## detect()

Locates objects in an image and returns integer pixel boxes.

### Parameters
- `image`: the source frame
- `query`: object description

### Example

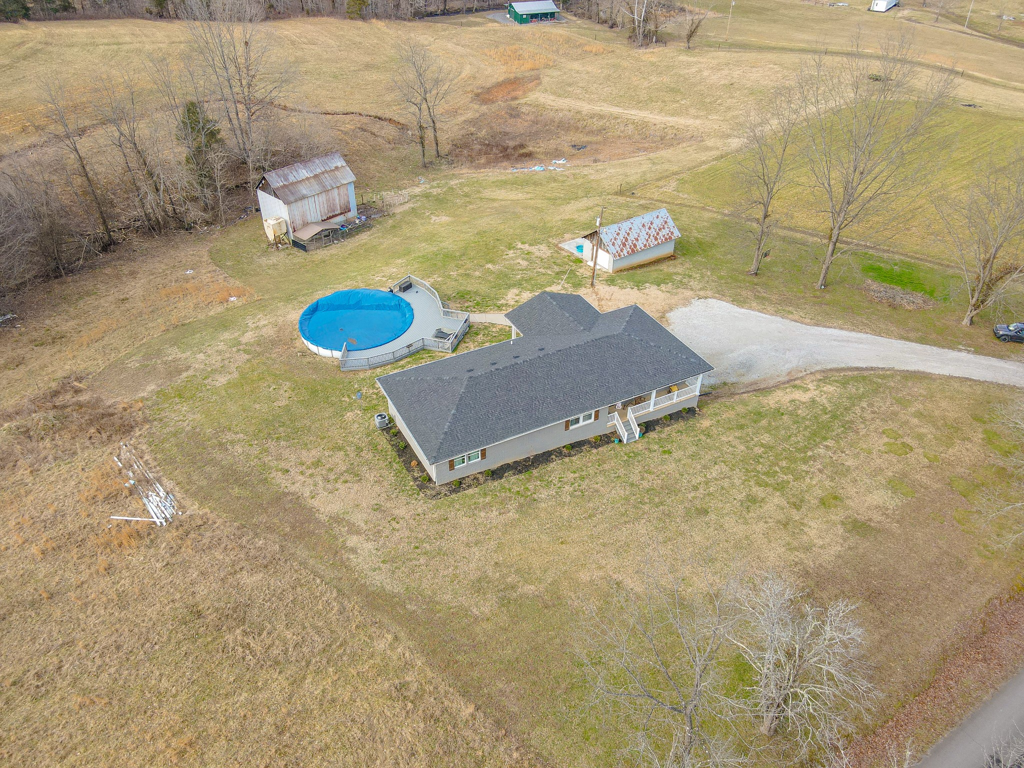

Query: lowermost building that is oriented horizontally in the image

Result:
[377,292,716,484]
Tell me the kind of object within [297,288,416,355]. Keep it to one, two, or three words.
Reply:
swimming pool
